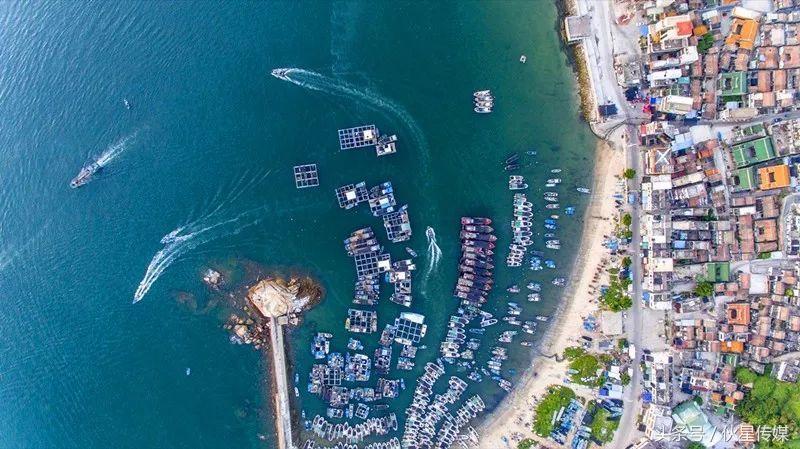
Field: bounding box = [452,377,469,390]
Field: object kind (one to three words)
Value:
boat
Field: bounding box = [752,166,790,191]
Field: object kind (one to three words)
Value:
building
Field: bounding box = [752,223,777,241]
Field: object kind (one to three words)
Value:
building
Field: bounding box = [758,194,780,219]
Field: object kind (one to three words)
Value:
house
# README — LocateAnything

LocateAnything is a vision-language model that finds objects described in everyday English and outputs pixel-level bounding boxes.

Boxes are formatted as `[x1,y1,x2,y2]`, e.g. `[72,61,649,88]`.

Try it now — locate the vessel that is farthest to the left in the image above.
[69,163,98,187]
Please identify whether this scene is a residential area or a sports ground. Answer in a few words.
residential area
